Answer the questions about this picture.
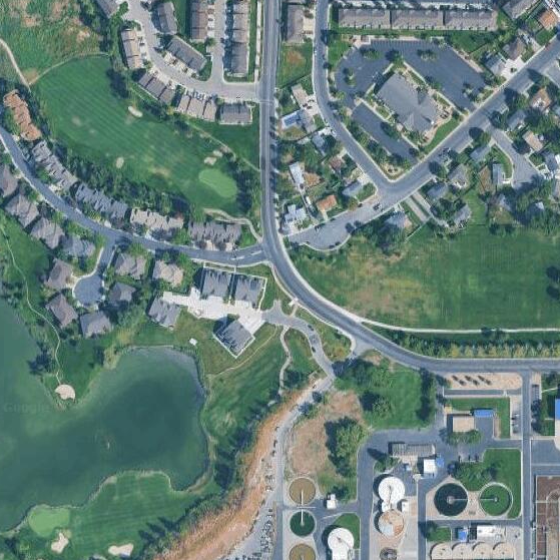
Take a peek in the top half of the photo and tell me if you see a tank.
No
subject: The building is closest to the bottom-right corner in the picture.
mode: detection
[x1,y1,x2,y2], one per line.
[477,527,505,541]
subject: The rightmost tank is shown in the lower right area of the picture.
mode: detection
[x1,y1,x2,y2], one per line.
[476,484,511,516]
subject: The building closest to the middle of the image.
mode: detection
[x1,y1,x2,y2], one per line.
[234,275,265,304]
